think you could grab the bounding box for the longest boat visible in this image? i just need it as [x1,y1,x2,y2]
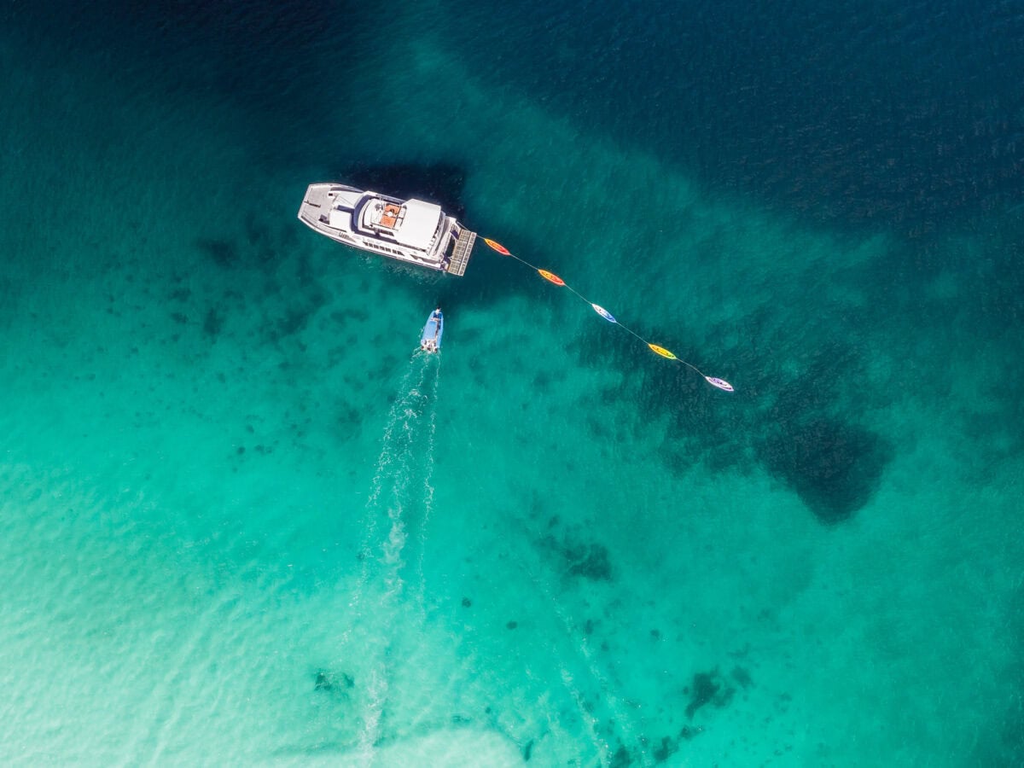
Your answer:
[298,184,477,277]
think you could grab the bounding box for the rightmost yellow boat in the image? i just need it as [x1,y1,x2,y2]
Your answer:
[649,344,677,358]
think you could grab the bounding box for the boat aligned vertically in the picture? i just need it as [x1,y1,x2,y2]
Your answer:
[420,311,444,352]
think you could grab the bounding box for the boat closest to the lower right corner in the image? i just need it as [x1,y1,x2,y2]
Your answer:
[706,377,735,391]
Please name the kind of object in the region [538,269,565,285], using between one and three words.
boat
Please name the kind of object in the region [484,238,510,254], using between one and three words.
boat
